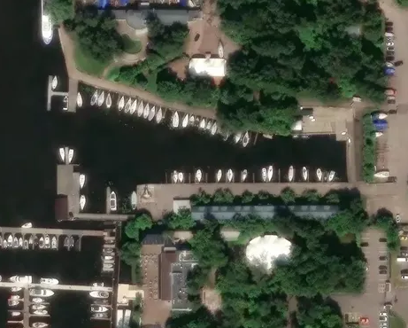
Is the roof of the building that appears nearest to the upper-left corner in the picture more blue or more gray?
gray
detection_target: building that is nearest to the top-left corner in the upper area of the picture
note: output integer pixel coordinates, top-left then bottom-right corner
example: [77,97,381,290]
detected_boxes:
[112,9,205,34]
